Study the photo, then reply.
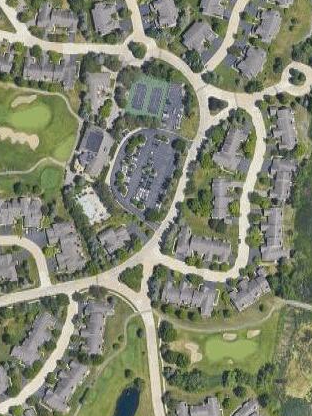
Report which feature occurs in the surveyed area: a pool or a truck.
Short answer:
pool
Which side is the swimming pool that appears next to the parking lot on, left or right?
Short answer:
left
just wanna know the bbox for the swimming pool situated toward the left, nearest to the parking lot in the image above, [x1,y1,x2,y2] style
[77,187,111,225]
